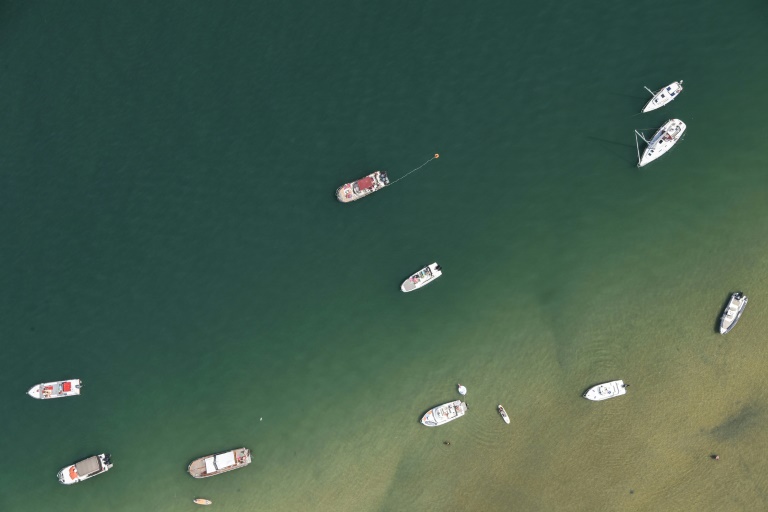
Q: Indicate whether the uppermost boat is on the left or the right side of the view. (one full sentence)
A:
The uppermost boat is on the right side of the image.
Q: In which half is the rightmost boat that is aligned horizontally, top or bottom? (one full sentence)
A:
The rightmost boat that is aligned horizontally is in the bottom half of the image.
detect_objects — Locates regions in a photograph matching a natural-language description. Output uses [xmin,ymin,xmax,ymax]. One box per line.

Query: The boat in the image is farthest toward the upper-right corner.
[641,81,684,114]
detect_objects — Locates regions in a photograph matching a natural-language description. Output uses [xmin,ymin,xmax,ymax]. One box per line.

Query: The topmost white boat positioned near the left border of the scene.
[25,379,85,399]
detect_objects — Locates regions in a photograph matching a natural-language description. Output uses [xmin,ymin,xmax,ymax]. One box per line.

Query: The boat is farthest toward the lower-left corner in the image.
[58,454,113,483]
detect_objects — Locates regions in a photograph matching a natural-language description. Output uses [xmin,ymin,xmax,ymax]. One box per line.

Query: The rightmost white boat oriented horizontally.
[582,379,628,401]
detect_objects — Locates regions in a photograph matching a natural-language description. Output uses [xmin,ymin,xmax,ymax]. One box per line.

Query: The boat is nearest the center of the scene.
[400,262,442,291]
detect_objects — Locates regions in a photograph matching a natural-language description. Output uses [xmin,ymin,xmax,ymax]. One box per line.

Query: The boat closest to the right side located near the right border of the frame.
[721,292,748,334]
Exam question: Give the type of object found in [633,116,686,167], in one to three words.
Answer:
boat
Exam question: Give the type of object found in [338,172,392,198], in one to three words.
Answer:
boat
